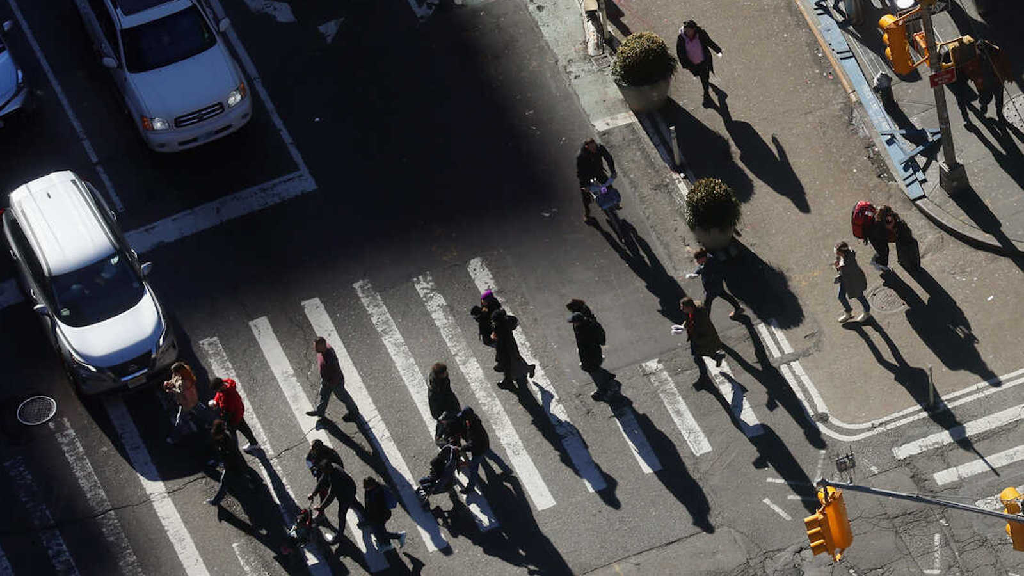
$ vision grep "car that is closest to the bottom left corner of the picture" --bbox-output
[0,177,176,402]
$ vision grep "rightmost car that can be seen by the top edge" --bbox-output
[62,0,245,164]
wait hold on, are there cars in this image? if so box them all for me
[0,177,176,402]
[62,0,245,164]
[0,29,34,133]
